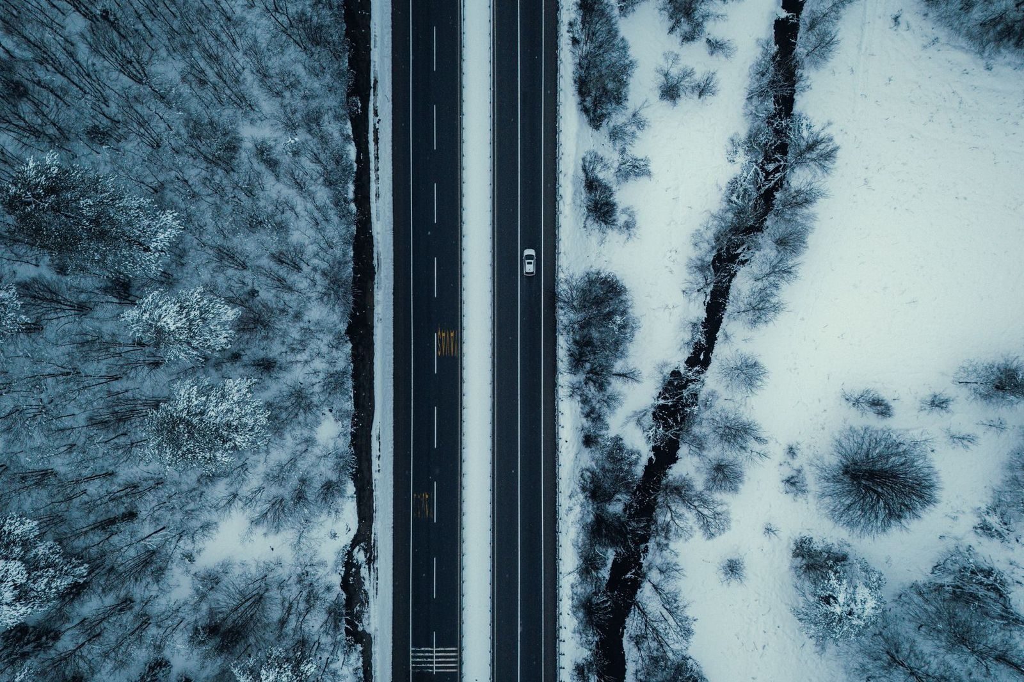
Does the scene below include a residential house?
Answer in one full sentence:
No, the picture doesn't show any residential house.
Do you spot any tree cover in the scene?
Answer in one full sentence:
Yes, some tree cover is visible.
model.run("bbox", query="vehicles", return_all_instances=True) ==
[523,249,537,276]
